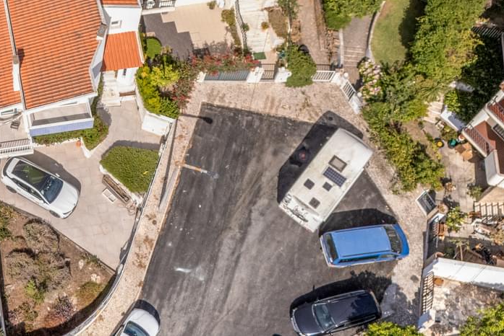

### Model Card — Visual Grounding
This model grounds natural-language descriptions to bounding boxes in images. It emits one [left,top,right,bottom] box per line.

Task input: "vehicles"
[0,153,79,219]
[272,129,374,235]
[286,285,388,336]
[106,302,162,336]
[314,219,412,274]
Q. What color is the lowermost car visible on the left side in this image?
white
